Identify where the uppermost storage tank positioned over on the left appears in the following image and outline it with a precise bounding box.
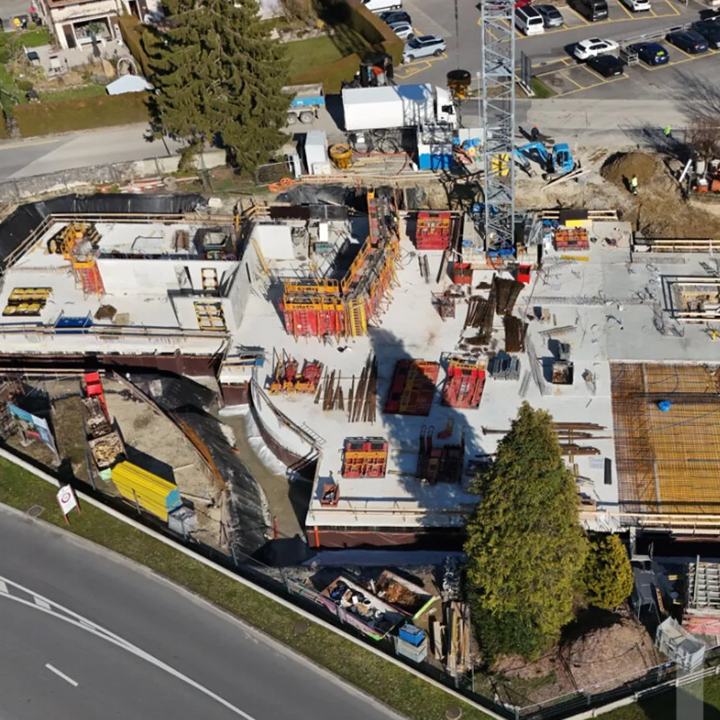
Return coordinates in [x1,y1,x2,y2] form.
[171,504,202,535]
